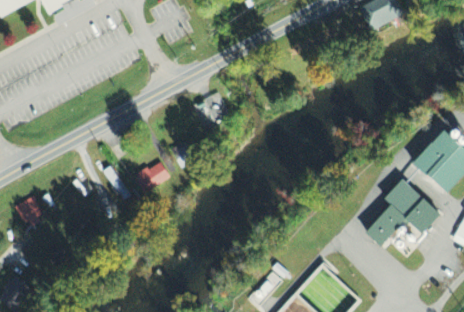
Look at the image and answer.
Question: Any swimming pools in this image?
No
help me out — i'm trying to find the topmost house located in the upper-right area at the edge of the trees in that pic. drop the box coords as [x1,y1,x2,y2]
[364,0,400,30]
